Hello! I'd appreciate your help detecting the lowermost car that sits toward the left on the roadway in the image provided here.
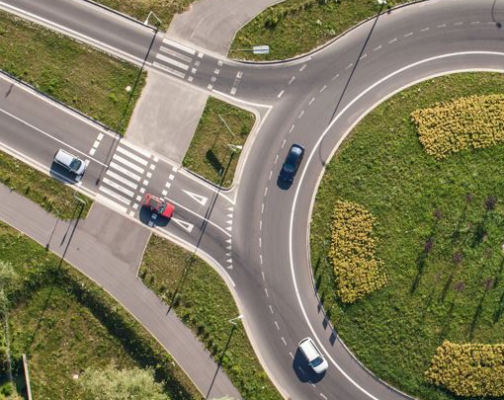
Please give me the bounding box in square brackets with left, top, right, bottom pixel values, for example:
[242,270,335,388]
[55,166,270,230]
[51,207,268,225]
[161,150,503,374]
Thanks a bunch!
[142,193,175,217]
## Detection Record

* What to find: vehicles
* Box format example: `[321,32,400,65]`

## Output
[142,193,175,217]
[52,148,87,174]
[297,336,328,372]
[281,143,305,184]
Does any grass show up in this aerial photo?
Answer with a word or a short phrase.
Yes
